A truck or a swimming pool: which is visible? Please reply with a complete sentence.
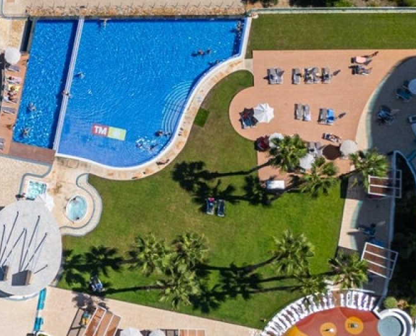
This aerial view contains a swimming pool.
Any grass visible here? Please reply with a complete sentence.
Yes, grass can be seen from above here.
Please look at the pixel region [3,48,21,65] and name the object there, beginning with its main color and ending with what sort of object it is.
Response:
white umbrella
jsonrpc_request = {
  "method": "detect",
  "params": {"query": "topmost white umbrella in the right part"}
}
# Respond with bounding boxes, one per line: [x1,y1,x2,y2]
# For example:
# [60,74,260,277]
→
[253,103,273,123]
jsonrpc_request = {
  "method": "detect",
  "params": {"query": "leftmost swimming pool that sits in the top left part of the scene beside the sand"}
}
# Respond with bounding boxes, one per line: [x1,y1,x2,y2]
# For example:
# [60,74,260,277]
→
[12,21,79,148]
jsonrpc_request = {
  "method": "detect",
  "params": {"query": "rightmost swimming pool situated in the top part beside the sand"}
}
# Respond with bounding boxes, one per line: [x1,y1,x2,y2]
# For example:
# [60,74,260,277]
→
[59,21,243,166]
